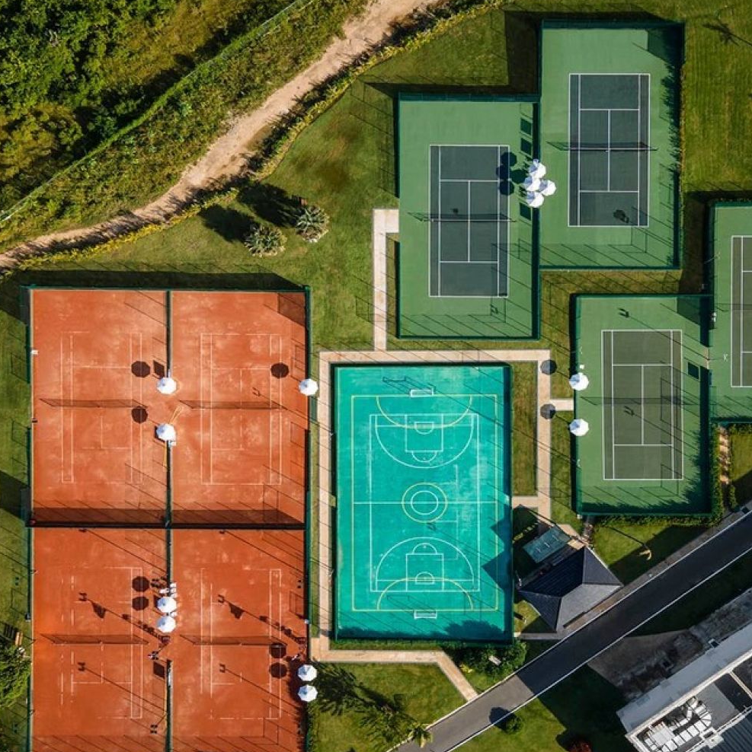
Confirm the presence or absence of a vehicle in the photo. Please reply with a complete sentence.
No, there isn't any vehicle down there.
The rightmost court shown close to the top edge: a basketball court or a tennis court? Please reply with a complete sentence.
In the photo, the rightmost court shown close to the top edge shows up as a tennis court.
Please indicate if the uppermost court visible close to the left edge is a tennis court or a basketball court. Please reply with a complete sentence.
Looking closely, the uppermost court visible close to the left edge is a tennis court.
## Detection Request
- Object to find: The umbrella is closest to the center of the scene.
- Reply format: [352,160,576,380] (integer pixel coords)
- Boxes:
[299,378,318,396]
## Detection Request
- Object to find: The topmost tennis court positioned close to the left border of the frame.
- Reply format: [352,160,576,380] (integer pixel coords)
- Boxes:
[32,290,169,526]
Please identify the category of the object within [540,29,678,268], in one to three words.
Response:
tennis court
